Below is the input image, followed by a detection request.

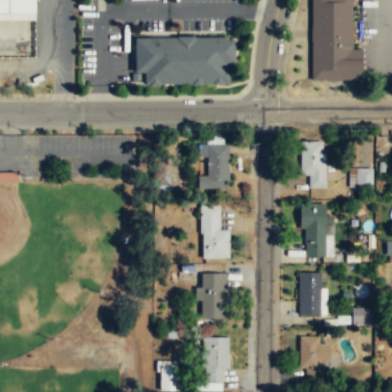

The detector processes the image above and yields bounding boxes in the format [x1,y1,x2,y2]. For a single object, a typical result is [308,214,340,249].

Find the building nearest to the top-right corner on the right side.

[314,0,366,80]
